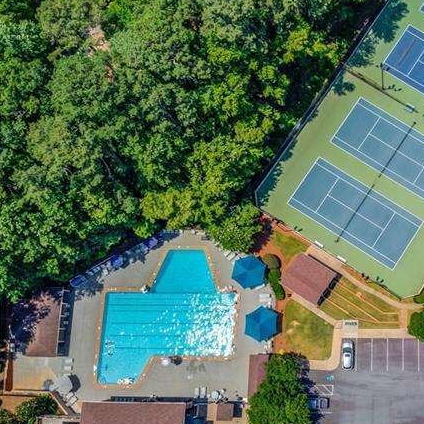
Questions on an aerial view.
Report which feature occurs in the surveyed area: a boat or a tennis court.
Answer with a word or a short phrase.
tennis court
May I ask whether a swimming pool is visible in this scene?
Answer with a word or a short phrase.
Yes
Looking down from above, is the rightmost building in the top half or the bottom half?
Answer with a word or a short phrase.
bottom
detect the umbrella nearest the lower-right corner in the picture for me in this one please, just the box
[243,306,276,345]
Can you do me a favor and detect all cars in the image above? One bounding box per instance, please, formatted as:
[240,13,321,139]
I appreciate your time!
[340,341,354,369]
[304,397,330,411]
